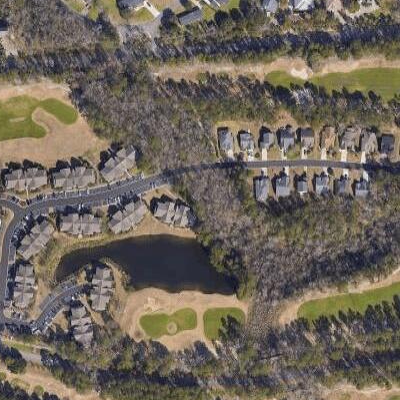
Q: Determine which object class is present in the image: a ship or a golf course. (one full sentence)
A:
The one in the frame is a golf course.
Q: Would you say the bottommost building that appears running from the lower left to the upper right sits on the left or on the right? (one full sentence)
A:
The bottommost building that appears running from the lower left to the upper right is on the left side of the image.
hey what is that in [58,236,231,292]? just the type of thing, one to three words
pond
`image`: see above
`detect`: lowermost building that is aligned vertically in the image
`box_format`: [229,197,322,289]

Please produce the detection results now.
[71,306,95,345]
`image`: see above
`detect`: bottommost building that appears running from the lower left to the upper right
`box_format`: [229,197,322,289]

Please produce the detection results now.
[19,220,56,260]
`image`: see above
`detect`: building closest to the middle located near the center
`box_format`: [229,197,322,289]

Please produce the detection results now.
[154,202,195,225]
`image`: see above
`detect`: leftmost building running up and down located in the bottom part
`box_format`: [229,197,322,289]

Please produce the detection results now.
[15,266,34,308]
